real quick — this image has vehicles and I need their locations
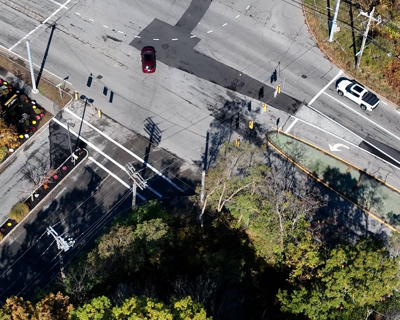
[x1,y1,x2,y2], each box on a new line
[337,81,381,113]
[141,48,157,73]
